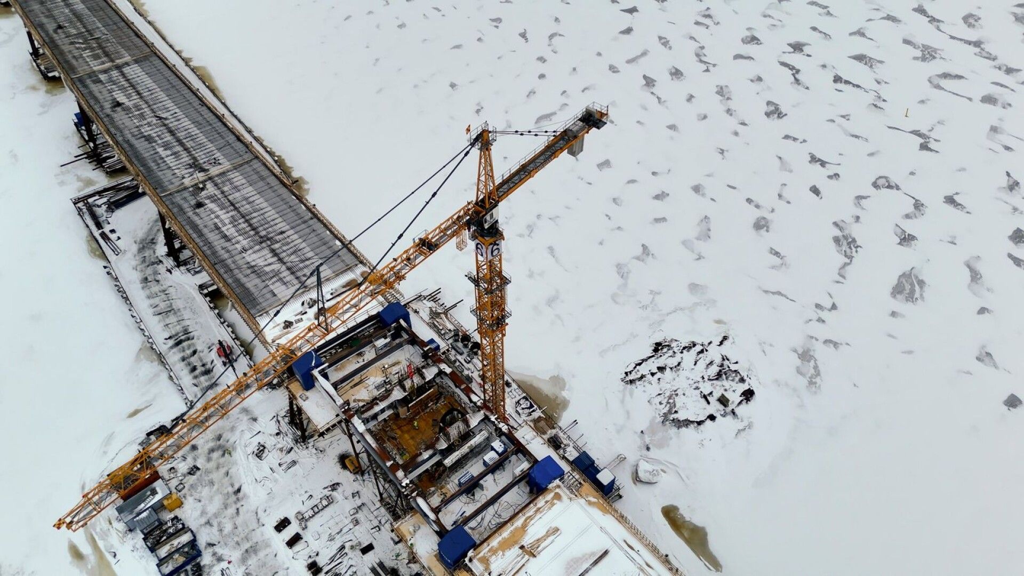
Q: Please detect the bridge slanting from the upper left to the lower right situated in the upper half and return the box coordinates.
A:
[0,0,411,408]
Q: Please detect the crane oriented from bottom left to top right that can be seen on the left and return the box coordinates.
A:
[39,106,614,538]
